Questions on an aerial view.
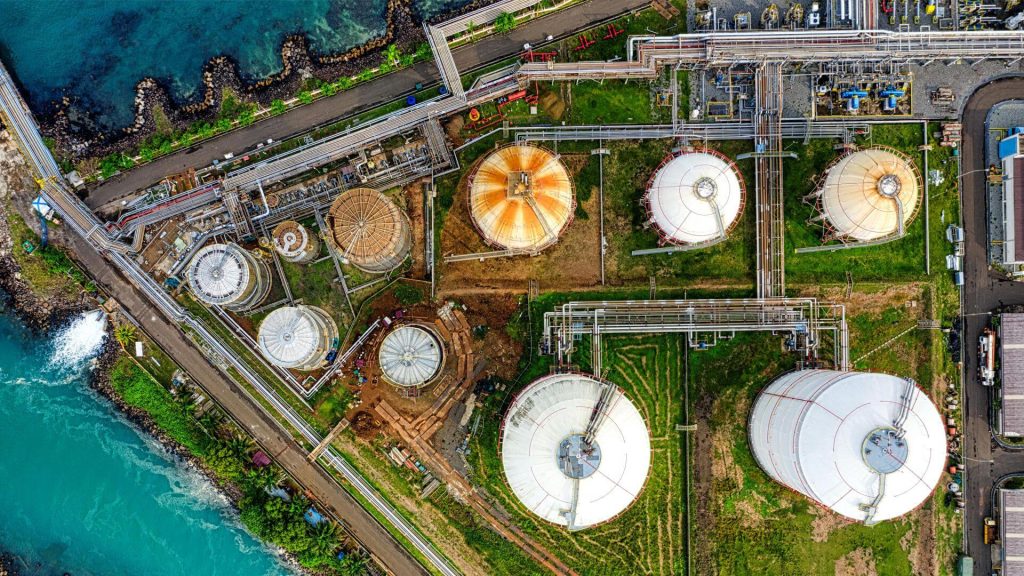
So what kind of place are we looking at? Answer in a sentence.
The picture captures an industrial area.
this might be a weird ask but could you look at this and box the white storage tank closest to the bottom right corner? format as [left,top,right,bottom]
[746,366,950,527]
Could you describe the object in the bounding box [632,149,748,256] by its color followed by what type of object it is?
white storage tank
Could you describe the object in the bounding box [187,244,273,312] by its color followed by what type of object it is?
white storage tank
